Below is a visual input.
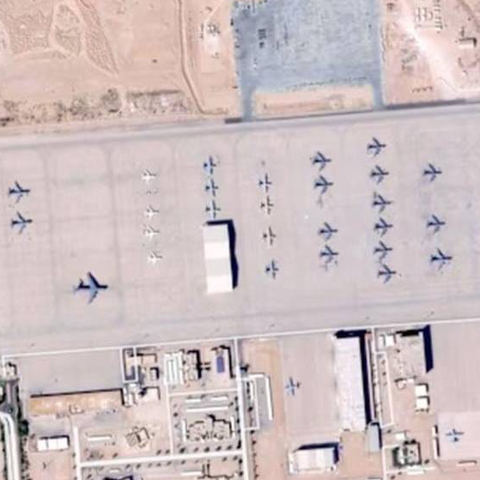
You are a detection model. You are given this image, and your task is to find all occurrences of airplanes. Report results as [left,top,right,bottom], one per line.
[142,172,155,184]
[373,218,391,236]
[203,180,216,198]
[428,249,450,271]
[312,176,331,194]
[425,216,443,234]
[201,158,215,175]
[422,164,440,183]
[319,246,336,264]
[147,253,160,264]
[145,228,158,239]
[366,139,384,156]
[9,214,30,234]
[369,165,387,184]
[376,265,394,282]
[373,242,390,260]
[204,202,218,219]
[257,176,271,193]
[73,275,104,304]
[310,152,329,171]
[372,195,390,213]
[443,428,462,442]
[261,229,274,246]
[144,207,157,219]
[5,183,28,203]
[318,223,335,241]
[259,198,272,216]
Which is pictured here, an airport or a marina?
airport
